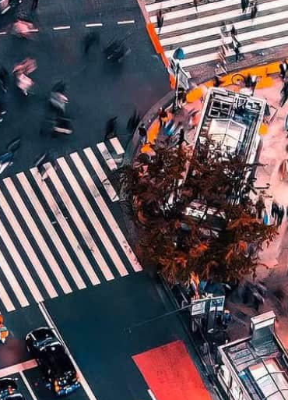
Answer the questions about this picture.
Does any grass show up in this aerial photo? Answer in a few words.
No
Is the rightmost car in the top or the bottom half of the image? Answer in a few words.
bottom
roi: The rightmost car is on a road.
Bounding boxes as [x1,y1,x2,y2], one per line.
[24,317,83,392]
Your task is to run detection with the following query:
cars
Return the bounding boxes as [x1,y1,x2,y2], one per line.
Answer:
[0,366,30,400]
[24,317,83,392]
